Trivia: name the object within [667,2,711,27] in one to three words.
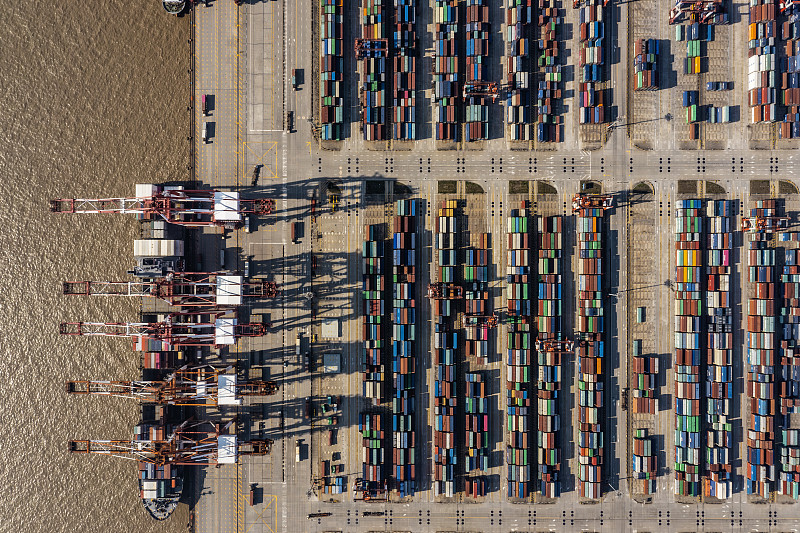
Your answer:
crane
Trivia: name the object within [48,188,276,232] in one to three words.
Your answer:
container crane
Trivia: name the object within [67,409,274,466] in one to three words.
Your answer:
container crane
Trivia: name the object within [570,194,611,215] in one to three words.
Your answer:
crane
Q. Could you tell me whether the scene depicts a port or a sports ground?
port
